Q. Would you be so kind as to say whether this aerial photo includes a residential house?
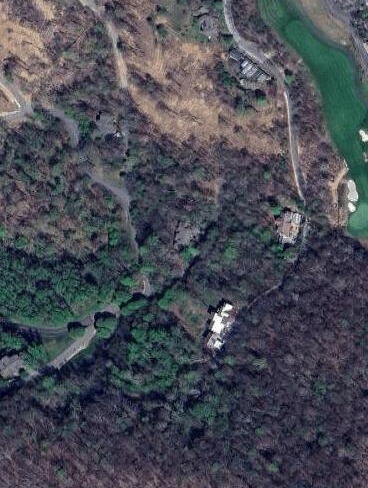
Yes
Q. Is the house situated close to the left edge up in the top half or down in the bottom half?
bottom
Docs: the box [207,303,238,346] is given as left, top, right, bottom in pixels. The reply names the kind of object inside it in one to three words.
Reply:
house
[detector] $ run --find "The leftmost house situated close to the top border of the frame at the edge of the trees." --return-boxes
[199,12,220,37]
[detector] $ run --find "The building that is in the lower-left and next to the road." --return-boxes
[1,354,24,377]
